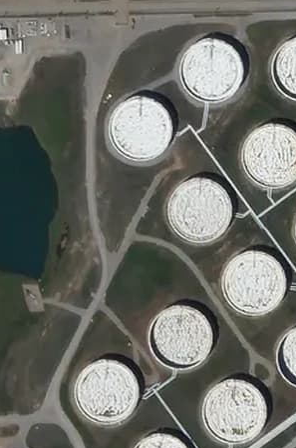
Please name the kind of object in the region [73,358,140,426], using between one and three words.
storage tank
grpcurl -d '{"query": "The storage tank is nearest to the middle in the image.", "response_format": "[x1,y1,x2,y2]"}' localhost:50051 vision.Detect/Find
[167,177,234,245]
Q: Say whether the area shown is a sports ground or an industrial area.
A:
industrial area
